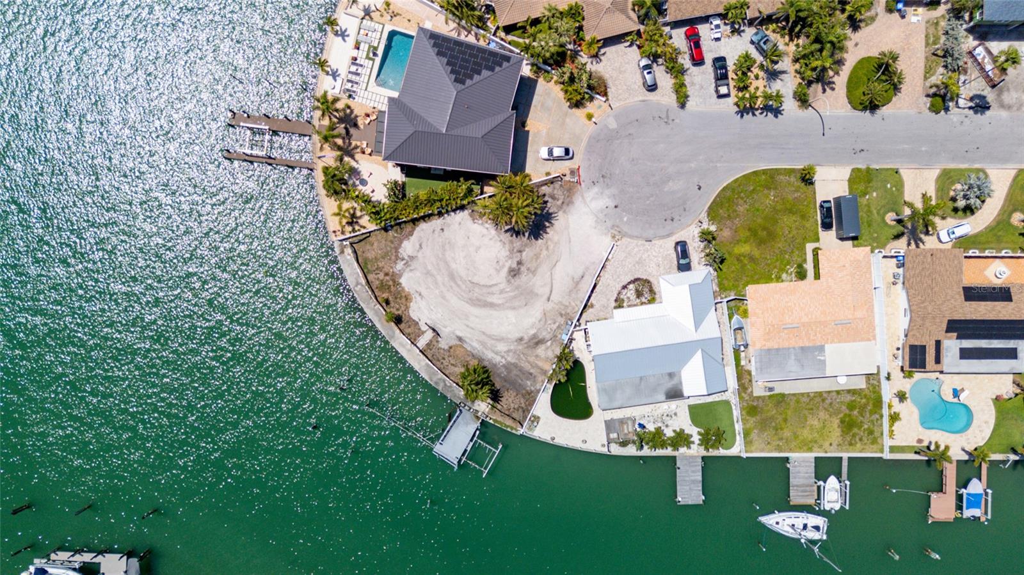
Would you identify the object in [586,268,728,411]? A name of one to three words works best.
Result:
house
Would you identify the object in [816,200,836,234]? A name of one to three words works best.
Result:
car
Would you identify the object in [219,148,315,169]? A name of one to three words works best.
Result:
pier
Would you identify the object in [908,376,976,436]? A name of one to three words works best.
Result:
swimming pool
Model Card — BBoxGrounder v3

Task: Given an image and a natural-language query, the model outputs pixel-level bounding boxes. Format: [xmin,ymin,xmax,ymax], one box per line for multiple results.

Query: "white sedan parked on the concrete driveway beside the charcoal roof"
[539,144,574,161]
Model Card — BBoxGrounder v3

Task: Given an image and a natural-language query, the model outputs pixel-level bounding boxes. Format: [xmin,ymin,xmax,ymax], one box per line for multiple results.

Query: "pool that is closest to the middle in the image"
[548,357,595,422]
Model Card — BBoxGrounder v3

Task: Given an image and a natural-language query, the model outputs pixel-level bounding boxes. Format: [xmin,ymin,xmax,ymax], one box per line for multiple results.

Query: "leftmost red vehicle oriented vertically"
[684,29,704,68]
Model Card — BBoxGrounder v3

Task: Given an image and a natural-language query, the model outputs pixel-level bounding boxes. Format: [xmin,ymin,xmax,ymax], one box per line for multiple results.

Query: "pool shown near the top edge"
[372,26,416,94]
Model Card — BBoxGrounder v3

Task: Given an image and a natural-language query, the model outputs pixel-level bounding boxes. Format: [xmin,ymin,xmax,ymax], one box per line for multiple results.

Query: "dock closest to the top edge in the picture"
[225,108,313,135]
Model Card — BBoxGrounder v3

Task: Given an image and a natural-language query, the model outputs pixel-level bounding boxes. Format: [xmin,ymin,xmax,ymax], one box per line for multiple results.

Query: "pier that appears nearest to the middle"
[431,407,482,472]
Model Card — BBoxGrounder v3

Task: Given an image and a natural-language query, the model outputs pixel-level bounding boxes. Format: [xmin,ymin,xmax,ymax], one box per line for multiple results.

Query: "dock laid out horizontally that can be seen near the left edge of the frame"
[39,548,149,575]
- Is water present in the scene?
Yes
